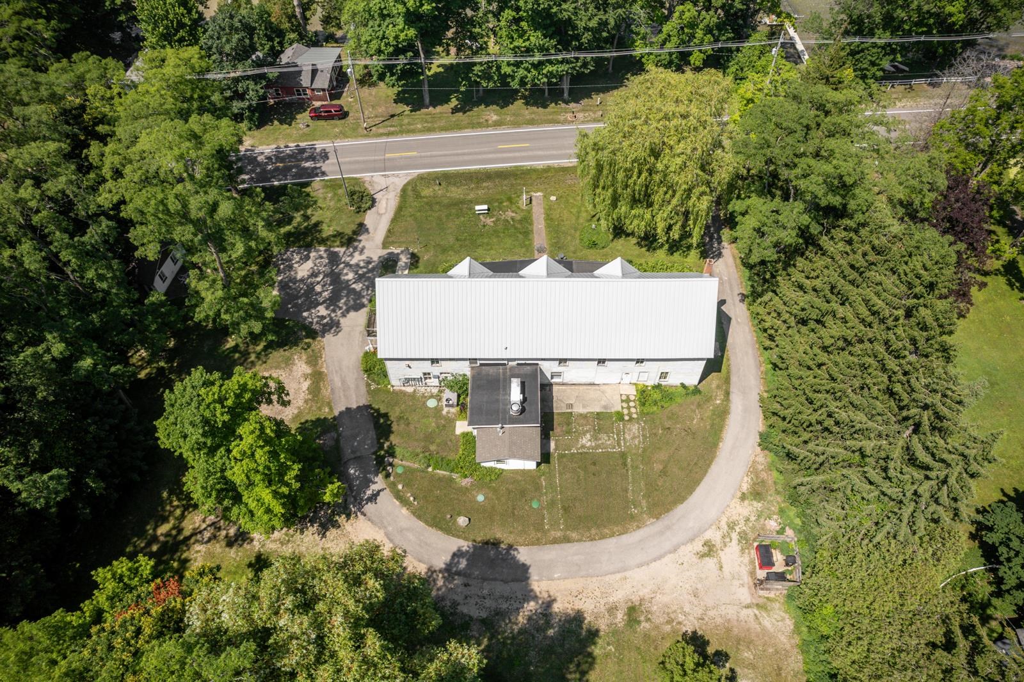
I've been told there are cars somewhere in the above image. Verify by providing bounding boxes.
[308,101,347,120]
